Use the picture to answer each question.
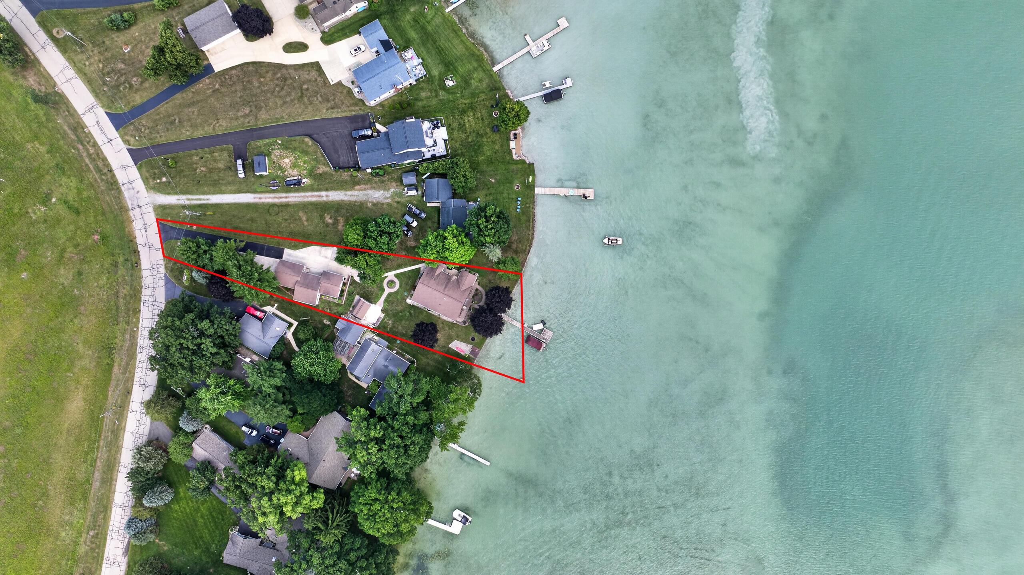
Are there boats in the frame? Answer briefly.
Yes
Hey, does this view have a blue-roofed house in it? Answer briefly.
Yes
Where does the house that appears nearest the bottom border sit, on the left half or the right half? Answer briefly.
left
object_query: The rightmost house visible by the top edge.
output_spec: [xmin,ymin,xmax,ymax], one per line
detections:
[352,19,412,104]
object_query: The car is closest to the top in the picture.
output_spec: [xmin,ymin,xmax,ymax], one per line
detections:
[349,44,367,57]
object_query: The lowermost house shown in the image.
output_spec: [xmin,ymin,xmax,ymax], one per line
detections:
[223,527,291,575]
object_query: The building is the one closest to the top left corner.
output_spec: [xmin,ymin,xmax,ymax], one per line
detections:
[183,0,243,52]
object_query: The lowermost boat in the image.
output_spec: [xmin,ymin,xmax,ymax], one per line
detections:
[454,509,472,525]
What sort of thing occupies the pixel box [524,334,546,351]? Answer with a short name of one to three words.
boat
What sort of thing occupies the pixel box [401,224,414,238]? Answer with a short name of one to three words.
vehicle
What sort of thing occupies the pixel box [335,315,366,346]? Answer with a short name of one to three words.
building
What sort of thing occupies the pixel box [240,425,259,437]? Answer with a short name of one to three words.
vehicle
